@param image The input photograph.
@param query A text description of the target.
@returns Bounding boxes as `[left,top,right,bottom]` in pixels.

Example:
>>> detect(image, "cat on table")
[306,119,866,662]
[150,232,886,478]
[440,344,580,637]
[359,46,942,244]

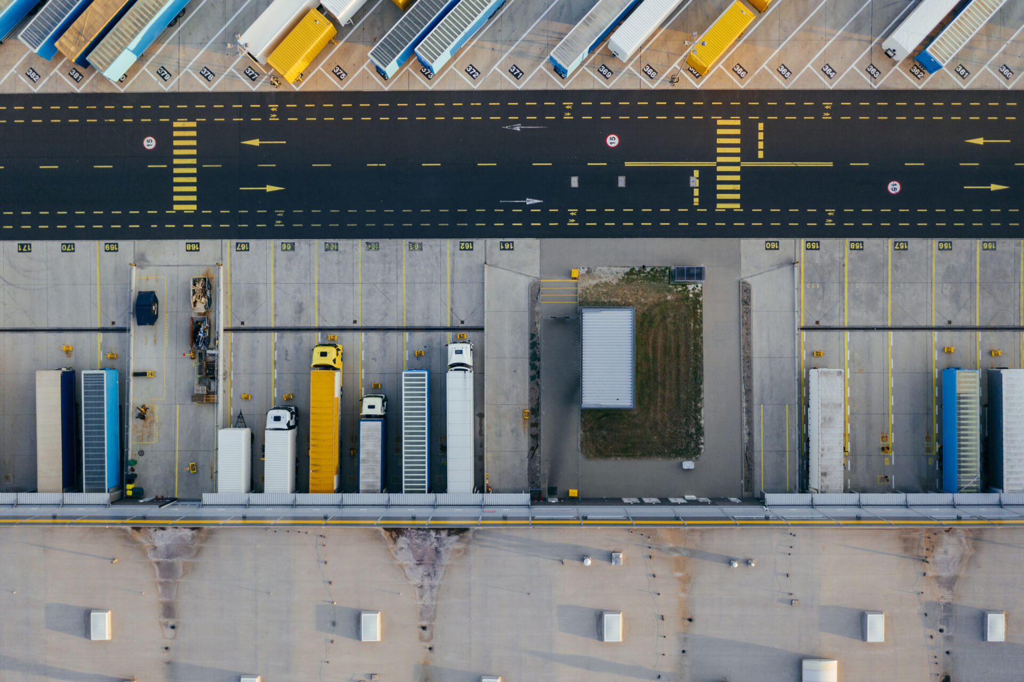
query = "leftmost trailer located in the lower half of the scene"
[36,367,81,494]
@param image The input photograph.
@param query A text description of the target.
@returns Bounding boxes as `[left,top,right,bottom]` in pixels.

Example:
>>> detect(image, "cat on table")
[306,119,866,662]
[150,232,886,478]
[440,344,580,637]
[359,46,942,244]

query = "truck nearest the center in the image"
[445,341,475,371]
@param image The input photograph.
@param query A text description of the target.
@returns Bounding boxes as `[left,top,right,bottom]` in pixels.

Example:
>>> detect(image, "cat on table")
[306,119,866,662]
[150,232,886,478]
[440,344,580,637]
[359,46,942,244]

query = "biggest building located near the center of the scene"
[579,307,635,409]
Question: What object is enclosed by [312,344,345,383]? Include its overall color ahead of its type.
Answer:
yellow truck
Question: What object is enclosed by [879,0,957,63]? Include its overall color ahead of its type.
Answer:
white trailer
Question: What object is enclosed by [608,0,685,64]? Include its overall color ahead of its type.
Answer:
white trailer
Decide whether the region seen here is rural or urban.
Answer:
urban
